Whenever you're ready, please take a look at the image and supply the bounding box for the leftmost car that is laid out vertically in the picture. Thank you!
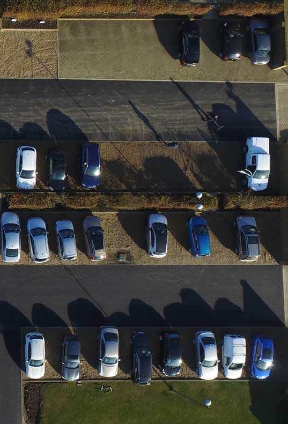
[0,211,22,263]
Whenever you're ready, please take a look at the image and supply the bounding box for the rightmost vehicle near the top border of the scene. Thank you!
[244,21,271,65]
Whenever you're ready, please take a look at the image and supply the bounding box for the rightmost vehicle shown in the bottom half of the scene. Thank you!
[246,334,274,379]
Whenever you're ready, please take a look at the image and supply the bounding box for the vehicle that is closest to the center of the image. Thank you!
[142,214,169,259]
